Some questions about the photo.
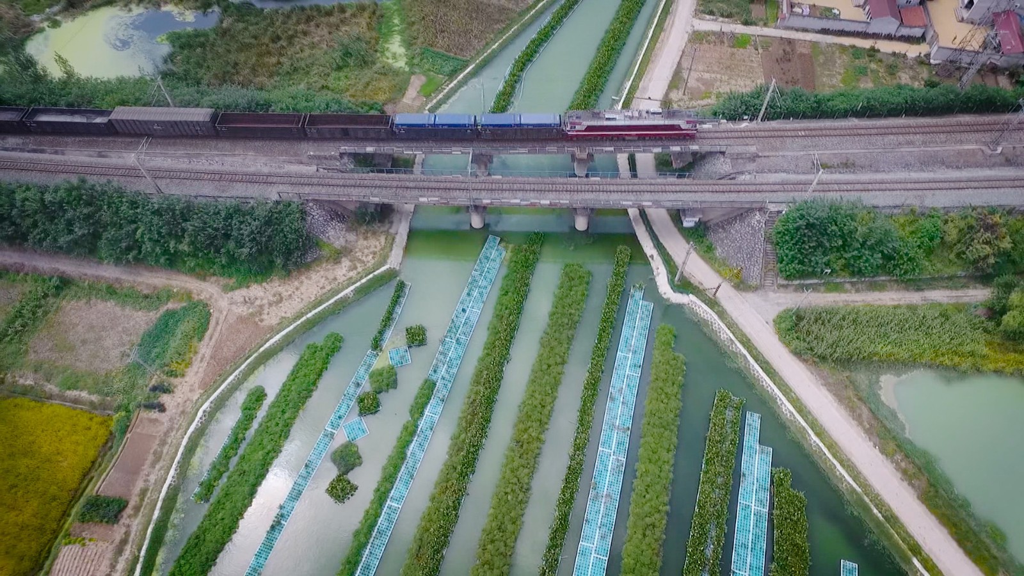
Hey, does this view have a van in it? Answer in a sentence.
No, the frame has no van in it.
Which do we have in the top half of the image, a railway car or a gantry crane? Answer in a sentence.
What appears in the top half of the image is a railway car.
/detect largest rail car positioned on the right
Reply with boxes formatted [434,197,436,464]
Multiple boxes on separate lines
[562,109,698,141]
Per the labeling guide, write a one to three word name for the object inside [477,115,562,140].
rail car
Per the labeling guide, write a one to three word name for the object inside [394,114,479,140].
rail car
